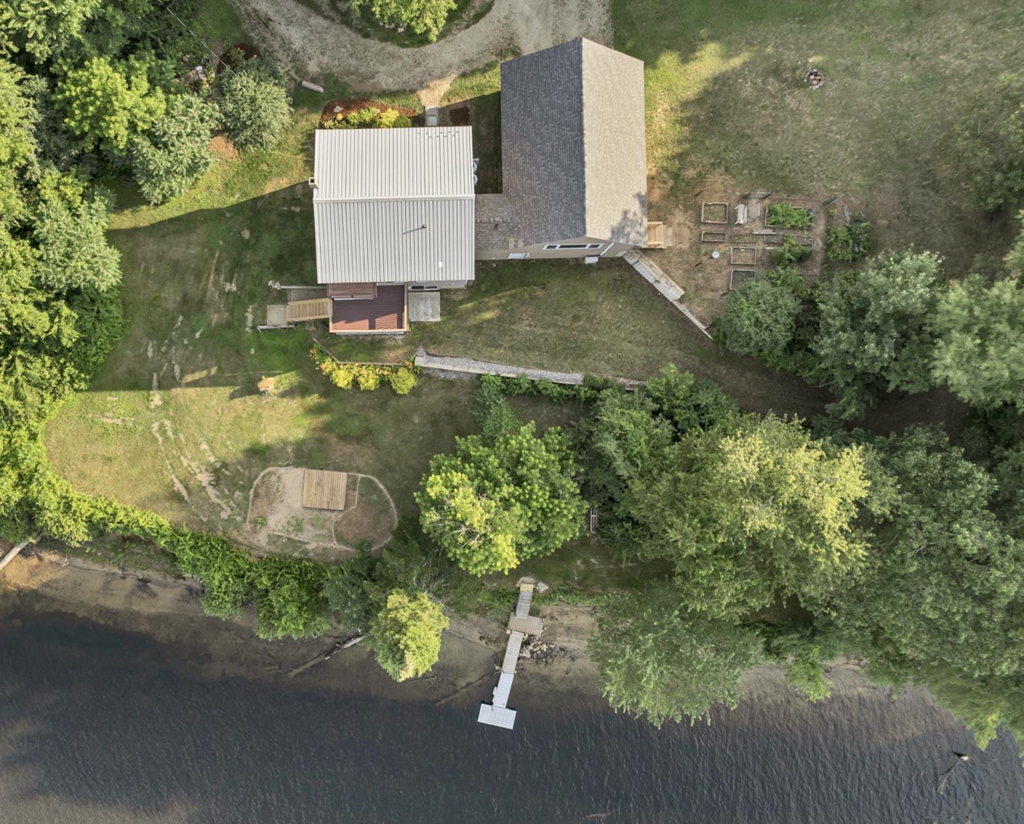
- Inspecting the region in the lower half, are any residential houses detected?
No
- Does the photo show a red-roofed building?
No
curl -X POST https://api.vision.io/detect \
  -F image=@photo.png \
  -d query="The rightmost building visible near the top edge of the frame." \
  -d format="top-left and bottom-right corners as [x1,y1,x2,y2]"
[496,38,649,259]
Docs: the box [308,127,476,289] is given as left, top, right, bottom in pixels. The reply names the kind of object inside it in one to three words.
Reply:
house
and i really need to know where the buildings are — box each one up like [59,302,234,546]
[496,38,649,259]
[308,127,476,289]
